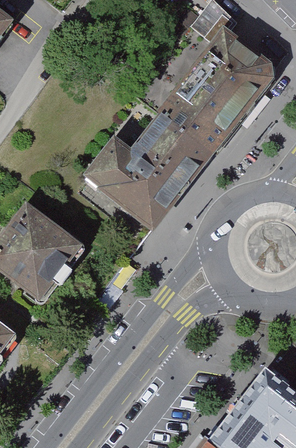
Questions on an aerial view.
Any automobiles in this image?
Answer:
Yes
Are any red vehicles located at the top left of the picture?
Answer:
Yes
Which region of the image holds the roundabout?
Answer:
right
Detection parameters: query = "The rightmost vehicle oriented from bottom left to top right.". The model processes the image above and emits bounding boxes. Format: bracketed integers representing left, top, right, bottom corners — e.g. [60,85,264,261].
[270,75,290,97]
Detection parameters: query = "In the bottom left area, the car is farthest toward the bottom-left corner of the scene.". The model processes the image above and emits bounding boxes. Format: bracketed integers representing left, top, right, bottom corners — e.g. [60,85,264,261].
[54,394,72,414]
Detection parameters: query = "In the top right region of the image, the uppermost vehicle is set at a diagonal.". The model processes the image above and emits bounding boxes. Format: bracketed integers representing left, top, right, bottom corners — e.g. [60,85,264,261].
[220,0,242,16]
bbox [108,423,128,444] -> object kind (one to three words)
car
